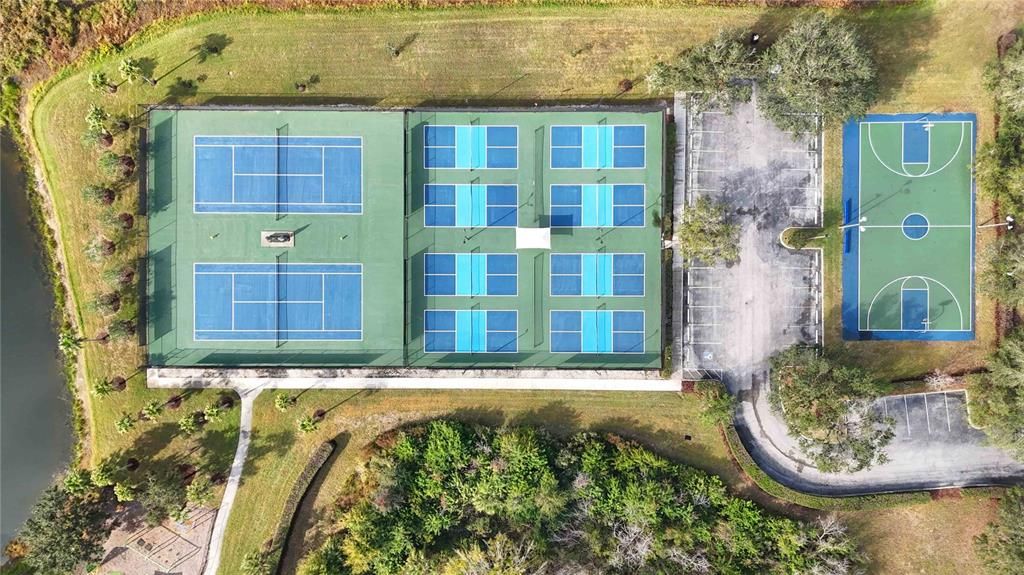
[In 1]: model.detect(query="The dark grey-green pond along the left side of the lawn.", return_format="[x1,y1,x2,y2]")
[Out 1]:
[0,131,73,540]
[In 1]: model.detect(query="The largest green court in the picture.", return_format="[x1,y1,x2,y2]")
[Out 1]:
[843,113,975,340]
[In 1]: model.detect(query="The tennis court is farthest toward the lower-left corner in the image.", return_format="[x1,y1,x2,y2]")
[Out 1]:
[193,257,362,348]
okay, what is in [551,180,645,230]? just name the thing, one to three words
sports court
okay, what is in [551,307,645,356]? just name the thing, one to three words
sports court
